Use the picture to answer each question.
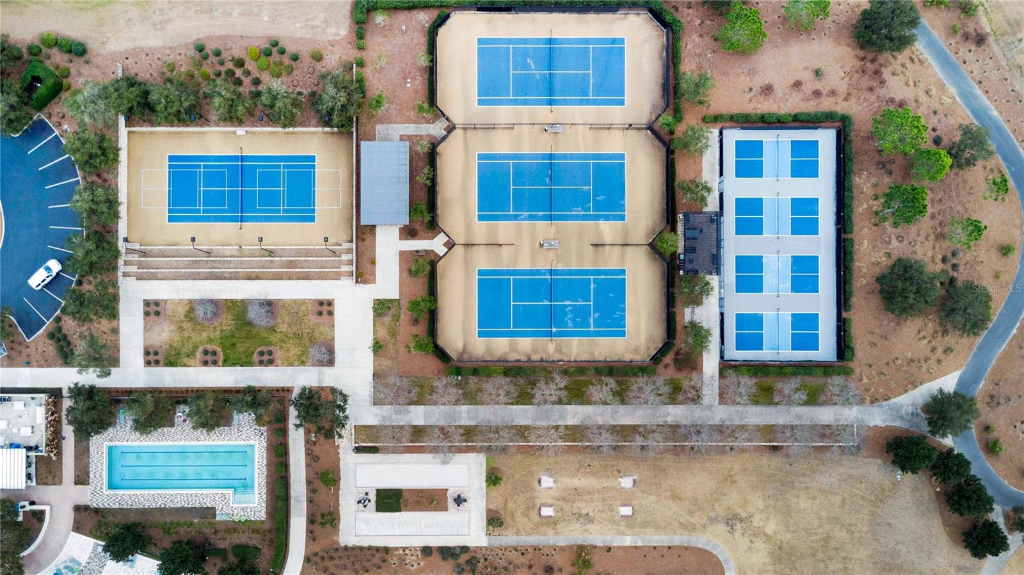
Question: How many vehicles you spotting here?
one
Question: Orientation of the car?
diagonally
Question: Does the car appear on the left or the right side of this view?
left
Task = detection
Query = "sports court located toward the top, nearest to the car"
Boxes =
[132,133,353,246]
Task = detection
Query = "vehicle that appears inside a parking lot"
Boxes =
[27,260,60,290]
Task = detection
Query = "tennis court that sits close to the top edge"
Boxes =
[437,13,667,126]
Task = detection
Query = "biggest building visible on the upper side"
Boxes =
[361,140,409,226]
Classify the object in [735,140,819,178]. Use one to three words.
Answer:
sports court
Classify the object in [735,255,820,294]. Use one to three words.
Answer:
sports court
